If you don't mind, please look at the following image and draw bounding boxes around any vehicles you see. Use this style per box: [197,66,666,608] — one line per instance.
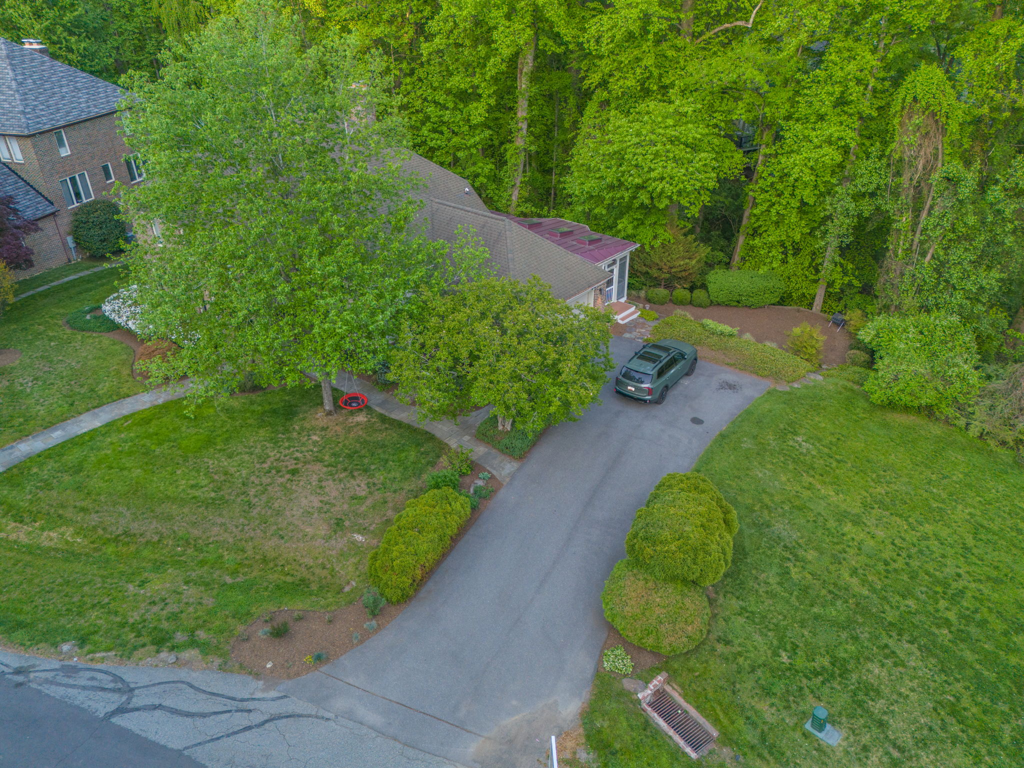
[614,339,701,406]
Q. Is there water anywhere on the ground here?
No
